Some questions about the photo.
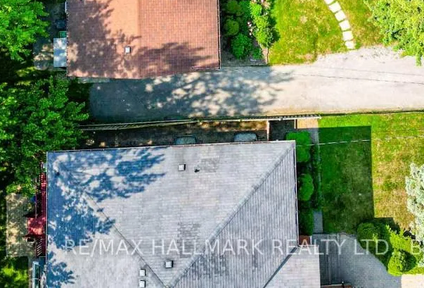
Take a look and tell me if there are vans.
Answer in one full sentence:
No, I can see no van in this picture.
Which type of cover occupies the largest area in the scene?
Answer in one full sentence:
What you mostly see from above here is buildings.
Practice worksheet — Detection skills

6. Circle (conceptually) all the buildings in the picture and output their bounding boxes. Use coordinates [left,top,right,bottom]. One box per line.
[45,131,322,288]
[65,0,222,77]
